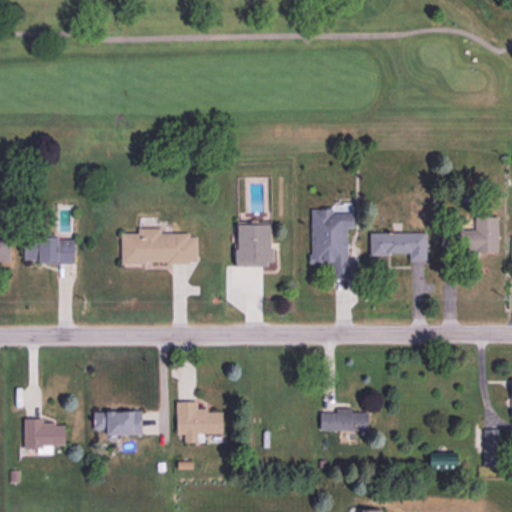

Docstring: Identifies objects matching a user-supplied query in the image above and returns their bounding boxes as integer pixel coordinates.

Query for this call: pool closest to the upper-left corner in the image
[60,210,72,232]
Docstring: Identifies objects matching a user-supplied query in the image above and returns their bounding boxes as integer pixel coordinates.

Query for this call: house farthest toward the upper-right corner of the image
[462,218,502,254]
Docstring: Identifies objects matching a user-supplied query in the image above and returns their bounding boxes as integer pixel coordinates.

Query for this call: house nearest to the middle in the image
[236,226,275,268]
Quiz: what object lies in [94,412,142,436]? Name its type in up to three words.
house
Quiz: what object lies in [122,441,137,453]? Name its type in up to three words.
swimming pool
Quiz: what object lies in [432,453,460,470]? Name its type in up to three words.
barn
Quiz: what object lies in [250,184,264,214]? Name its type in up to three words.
swimming pool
